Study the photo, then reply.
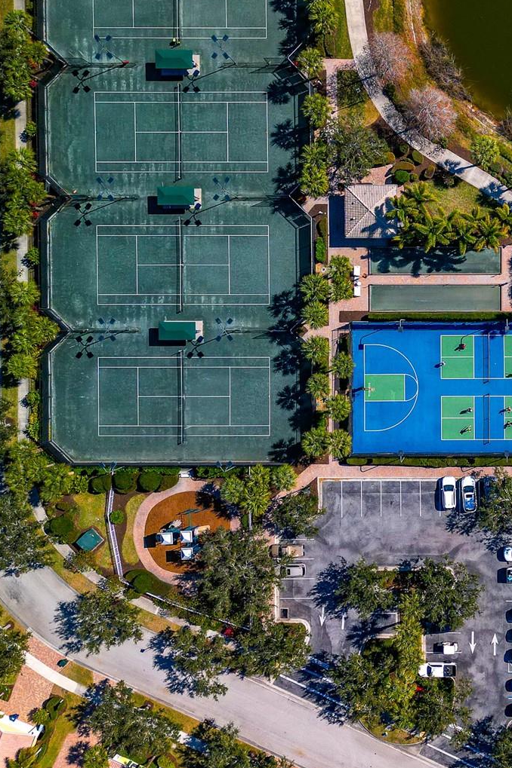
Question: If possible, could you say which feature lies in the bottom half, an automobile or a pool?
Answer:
automobile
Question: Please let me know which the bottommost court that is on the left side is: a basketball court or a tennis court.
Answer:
tennis court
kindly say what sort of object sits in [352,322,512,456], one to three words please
sports court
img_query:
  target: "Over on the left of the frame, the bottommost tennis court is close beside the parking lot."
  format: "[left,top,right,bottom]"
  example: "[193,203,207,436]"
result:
[51,330,316,464]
